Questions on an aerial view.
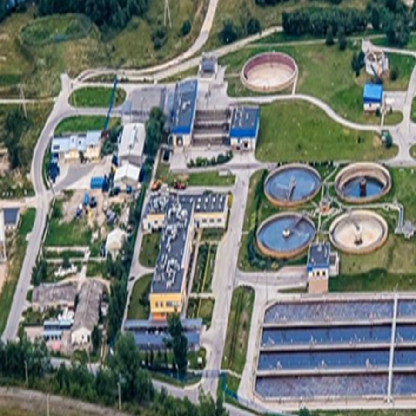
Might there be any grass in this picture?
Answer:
Yes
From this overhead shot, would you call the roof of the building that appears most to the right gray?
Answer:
No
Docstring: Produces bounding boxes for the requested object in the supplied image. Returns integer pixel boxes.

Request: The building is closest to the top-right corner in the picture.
[361,83,383,112]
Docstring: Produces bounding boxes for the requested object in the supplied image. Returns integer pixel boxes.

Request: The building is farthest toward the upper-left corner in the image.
[50,130,103,163]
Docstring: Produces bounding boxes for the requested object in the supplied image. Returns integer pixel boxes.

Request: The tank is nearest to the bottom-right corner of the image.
[329,208,388,253]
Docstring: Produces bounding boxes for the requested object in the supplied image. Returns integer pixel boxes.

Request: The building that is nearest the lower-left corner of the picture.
[42,320,72,344]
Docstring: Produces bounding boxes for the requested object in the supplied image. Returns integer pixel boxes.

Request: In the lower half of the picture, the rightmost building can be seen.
[306,242,338,277]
